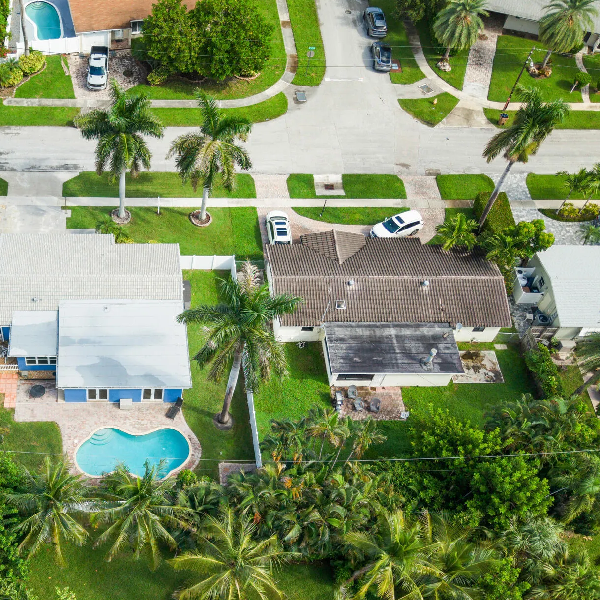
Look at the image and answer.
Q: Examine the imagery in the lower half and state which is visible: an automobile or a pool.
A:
pool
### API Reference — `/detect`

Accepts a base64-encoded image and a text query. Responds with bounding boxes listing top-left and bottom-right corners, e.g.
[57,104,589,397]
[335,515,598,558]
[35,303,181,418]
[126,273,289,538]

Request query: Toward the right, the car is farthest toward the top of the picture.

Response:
[362,4,391,34]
